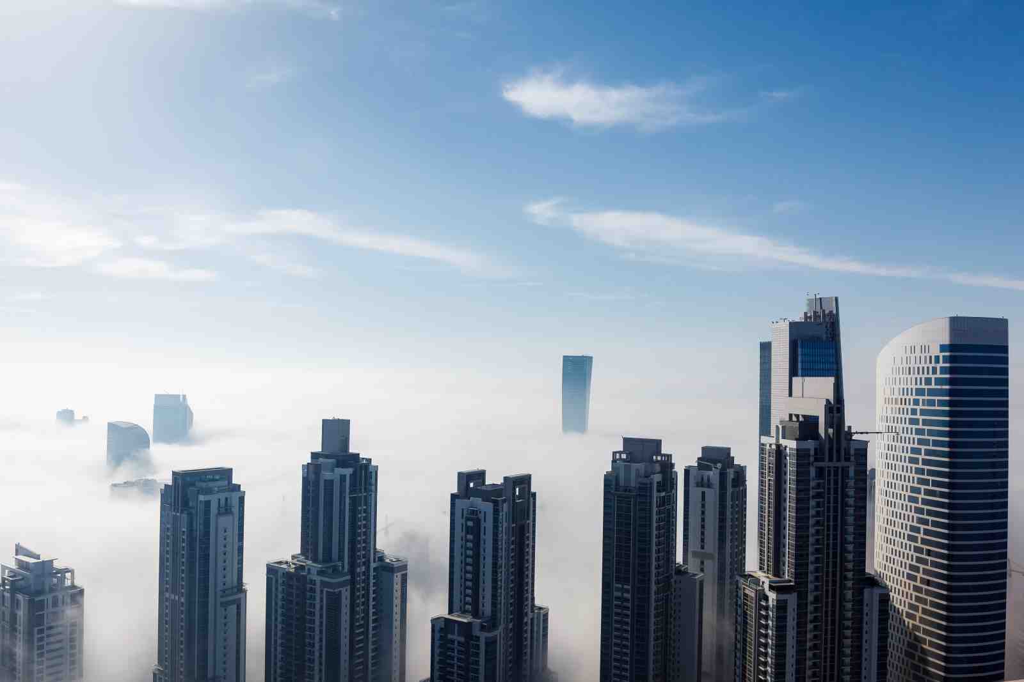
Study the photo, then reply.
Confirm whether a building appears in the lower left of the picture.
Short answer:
Yes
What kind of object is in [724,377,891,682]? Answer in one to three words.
building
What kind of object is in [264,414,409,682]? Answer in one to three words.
building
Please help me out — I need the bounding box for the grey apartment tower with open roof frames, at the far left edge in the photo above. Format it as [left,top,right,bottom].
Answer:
[0,542,86,682]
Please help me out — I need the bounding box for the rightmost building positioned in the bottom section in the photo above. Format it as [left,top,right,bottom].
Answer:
[872,312,1012,682]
